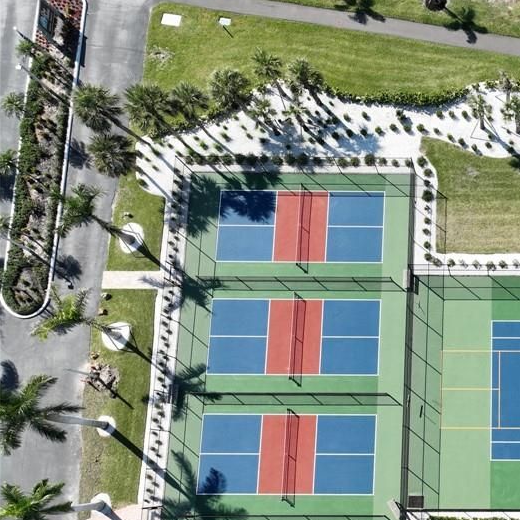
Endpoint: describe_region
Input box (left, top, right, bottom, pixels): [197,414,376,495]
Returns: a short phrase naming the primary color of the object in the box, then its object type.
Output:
blue sports court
